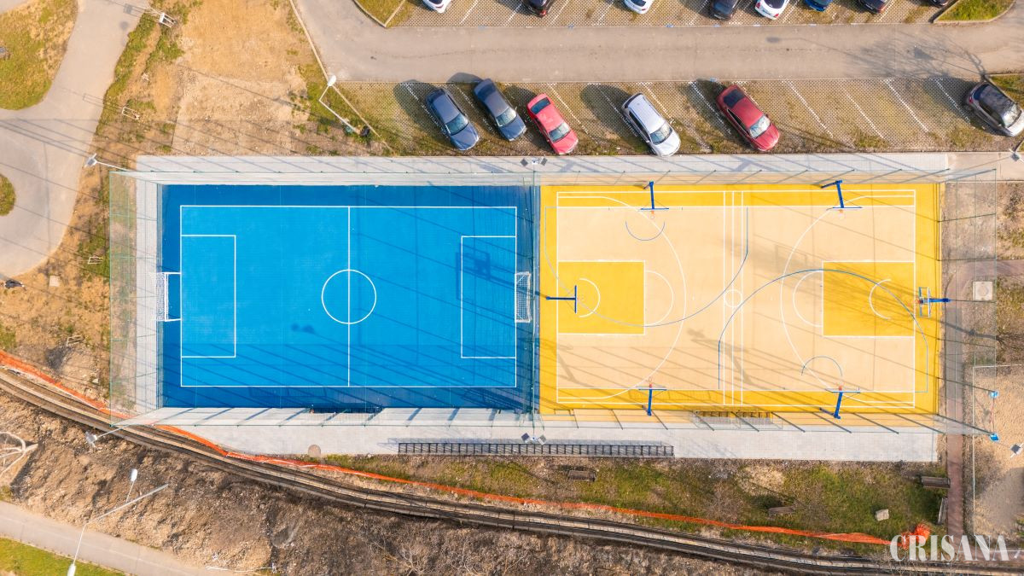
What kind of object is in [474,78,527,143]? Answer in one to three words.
car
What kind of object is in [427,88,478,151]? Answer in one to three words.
car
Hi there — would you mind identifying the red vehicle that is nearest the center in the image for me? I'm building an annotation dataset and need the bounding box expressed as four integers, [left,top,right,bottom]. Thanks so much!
[529,93,579,158]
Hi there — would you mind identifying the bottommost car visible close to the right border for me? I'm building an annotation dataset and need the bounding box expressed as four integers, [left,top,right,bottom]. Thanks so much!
[967,79,1024,142]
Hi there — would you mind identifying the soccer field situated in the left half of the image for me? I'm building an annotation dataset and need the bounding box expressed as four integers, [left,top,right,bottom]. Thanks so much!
[161,185,539,413]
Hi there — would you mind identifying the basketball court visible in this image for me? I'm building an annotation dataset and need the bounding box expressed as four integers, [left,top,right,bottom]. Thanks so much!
[539,174,944,423]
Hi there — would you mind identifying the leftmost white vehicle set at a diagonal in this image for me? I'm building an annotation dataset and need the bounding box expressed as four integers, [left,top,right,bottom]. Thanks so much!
[626,93,683,159]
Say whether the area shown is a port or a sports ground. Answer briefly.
sports ground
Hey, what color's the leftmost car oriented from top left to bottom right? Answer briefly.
blue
